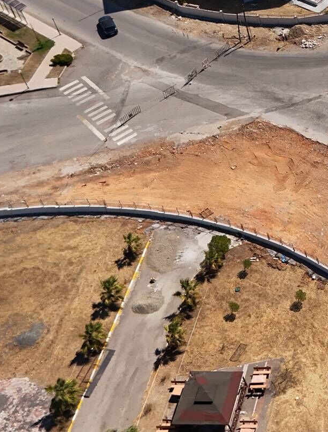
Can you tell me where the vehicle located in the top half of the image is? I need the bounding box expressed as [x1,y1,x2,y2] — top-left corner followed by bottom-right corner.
[94,13,117,36]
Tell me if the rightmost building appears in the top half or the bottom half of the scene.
bottom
